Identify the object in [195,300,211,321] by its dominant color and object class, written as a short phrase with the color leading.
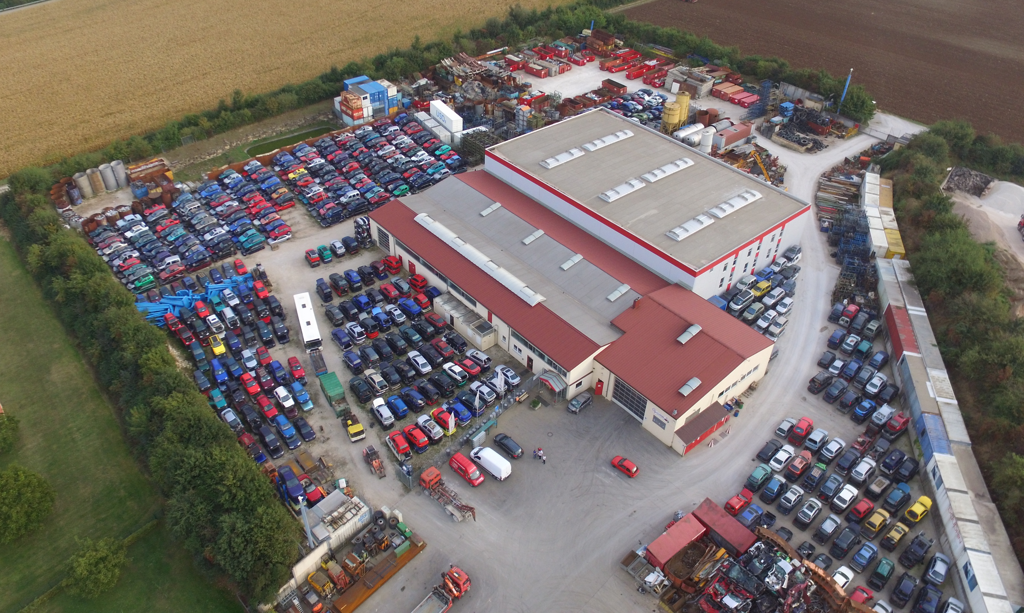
red car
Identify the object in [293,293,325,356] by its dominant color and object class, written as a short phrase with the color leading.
white bus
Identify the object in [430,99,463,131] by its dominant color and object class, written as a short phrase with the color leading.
white shipping container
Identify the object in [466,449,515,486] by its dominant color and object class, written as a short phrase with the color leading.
white van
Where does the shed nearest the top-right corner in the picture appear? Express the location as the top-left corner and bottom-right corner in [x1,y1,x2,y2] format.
[885,134,914,153]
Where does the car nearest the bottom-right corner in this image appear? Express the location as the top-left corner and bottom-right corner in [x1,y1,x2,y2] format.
[937,592,966,613]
